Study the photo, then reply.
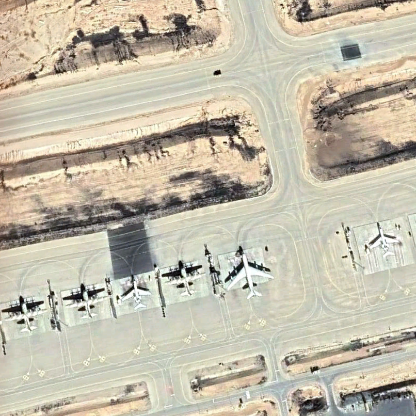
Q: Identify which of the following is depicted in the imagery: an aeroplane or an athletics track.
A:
aeroplane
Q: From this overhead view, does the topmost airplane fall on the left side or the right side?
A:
right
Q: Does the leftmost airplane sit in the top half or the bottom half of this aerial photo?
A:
bottom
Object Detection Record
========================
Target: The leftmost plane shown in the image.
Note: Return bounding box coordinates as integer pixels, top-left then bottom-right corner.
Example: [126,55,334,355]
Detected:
[5,303,48,333]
